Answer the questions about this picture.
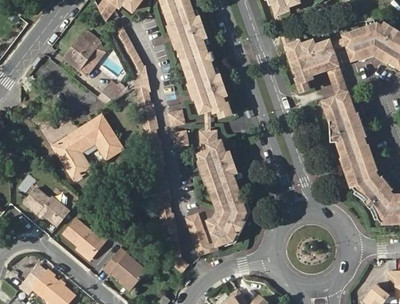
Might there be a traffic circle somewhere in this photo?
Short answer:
Yes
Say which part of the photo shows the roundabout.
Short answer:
bottom right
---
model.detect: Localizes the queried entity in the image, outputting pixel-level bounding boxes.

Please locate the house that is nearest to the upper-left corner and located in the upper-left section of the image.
[61,26,106,74]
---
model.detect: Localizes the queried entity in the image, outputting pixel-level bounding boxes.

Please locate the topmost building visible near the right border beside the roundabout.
[323,93,400,226]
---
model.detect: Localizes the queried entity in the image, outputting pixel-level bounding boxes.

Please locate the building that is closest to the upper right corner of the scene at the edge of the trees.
[340,22,400,72]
